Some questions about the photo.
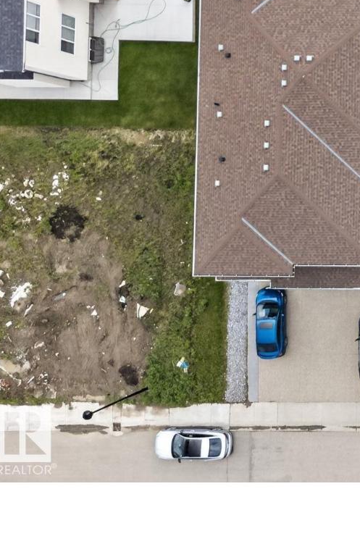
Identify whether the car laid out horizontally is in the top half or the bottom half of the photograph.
bottom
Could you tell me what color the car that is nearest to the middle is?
blue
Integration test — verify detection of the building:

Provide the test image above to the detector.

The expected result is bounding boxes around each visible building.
[0,0,102,92]
[192,0,360,290]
